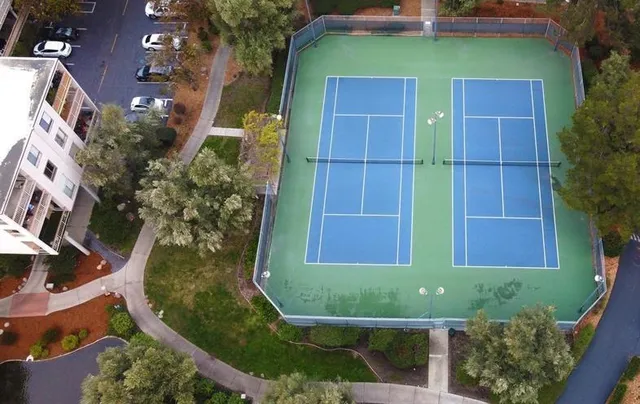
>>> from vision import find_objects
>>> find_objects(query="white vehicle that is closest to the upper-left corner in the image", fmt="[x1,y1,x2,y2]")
[34,41,72,59]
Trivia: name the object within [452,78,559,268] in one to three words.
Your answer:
tennis court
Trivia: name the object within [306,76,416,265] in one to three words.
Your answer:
tennis court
